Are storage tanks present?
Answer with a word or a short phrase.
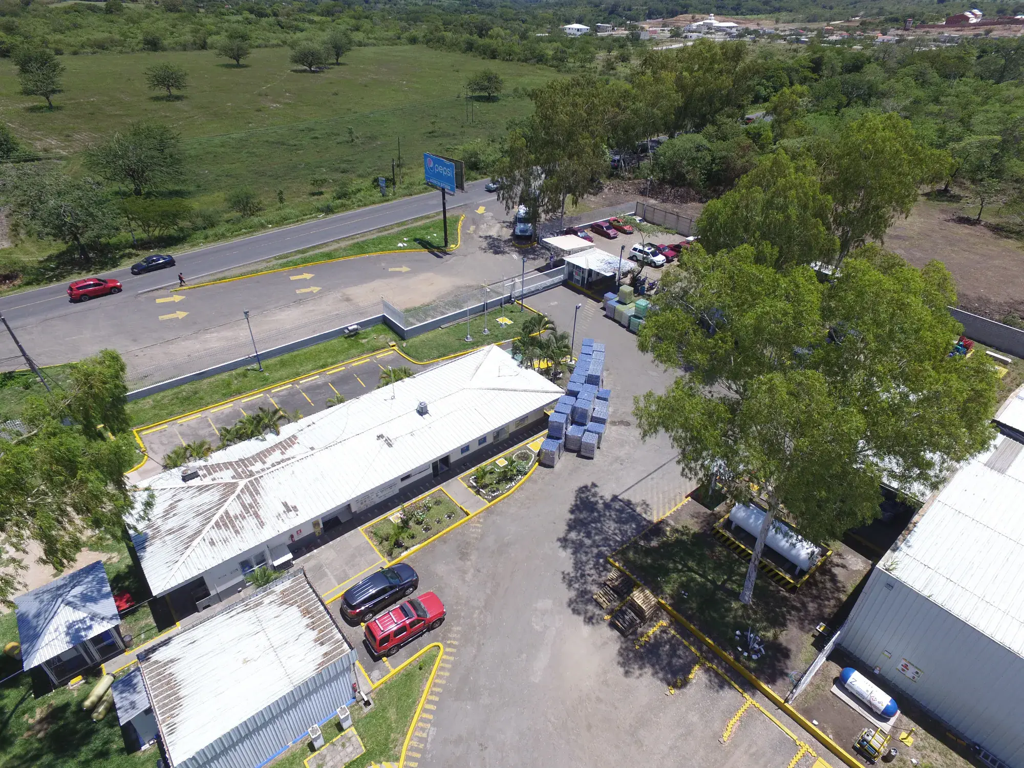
Yes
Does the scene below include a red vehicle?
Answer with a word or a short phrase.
Yes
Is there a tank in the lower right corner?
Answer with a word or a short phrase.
Yes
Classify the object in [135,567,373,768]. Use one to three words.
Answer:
shed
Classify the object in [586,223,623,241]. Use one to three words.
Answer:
car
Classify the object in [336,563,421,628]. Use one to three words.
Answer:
car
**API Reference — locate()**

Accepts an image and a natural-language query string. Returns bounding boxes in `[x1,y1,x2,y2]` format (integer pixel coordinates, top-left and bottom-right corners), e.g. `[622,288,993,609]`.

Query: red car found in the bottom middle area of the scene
[360,590,448,660]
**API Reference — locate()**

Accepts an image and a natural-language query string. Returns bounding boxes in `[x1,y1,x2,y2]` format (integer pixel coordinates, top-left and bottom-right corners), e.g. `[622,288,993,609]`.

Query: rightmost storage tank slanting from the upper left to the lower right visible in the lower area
[837,666,899,722]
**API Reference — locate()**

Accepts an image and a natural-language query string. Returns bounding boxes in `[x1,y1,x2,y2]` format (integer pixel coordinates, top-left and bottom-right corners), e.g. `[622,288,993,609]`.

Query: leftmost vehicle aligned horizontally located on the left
[67,275,125,301]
